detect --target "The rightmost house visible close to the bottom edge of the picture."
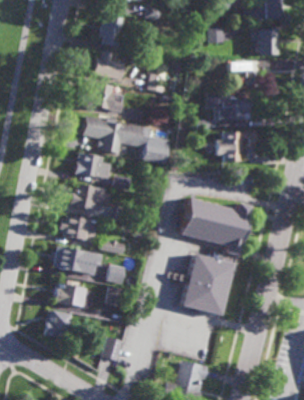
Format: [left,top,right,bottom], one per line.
[176,360,210,396]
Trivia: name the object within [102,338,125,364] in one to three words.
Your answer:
house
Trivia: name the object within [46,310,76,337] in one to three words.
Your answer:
house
